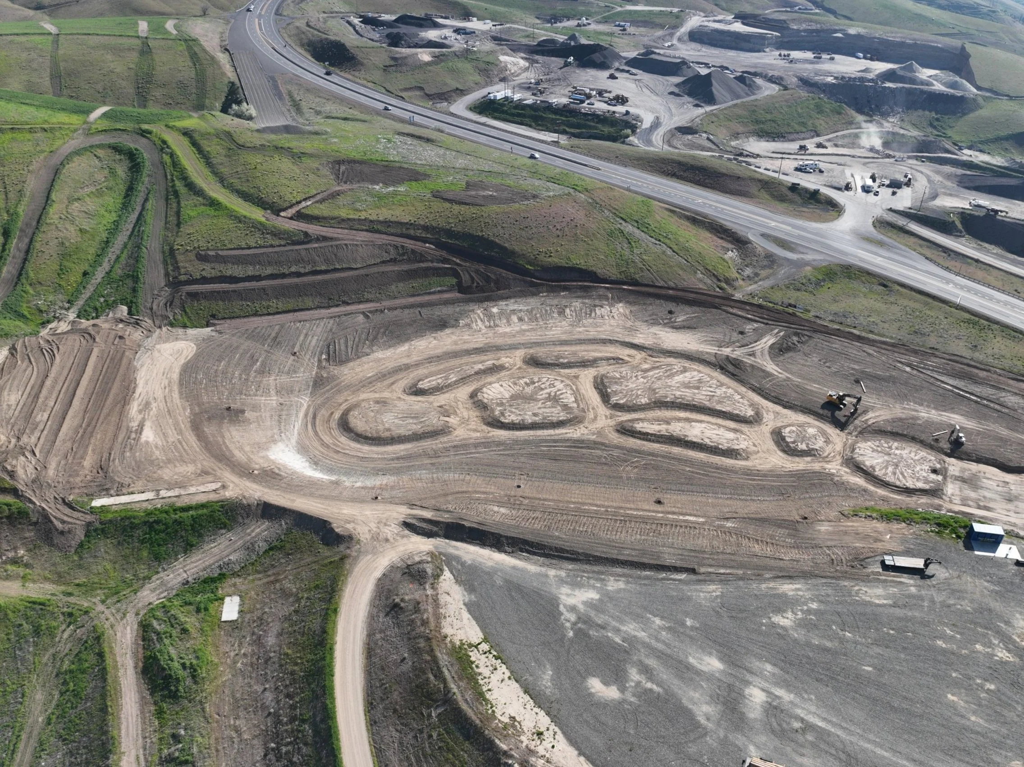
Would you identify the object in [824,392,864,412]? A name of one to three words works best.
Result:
work vehicle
